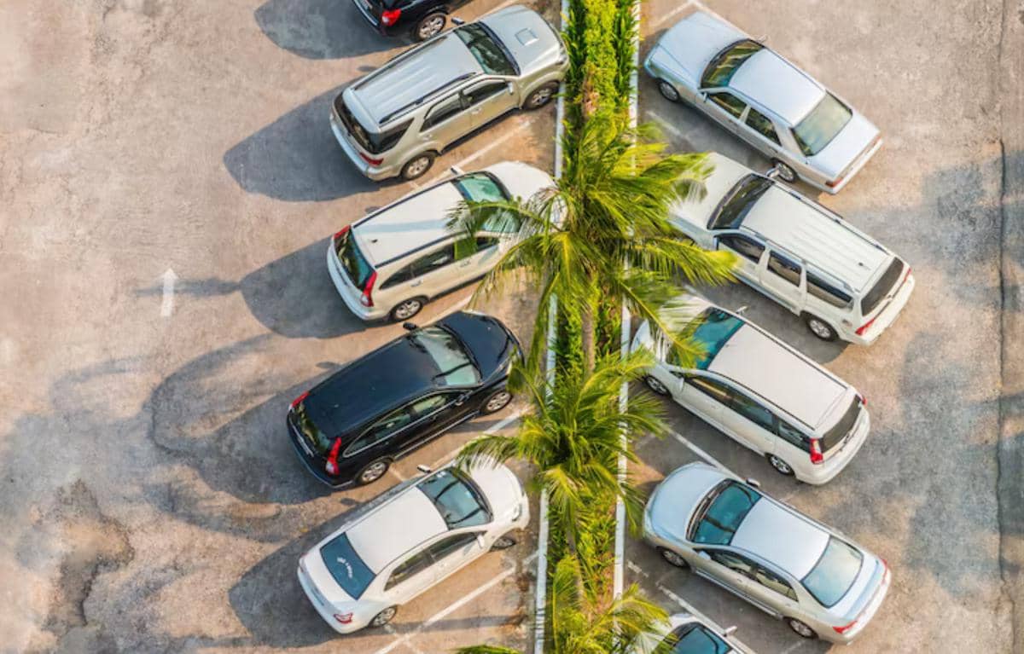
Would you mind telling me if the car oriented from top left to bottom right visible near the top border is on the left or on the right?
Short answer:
right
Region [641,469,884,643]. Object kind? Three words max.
car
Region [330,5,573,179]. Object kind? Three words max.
car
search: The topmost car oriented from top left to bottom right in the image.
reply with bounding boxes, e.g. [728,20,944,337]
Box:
[643,9,881,199]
